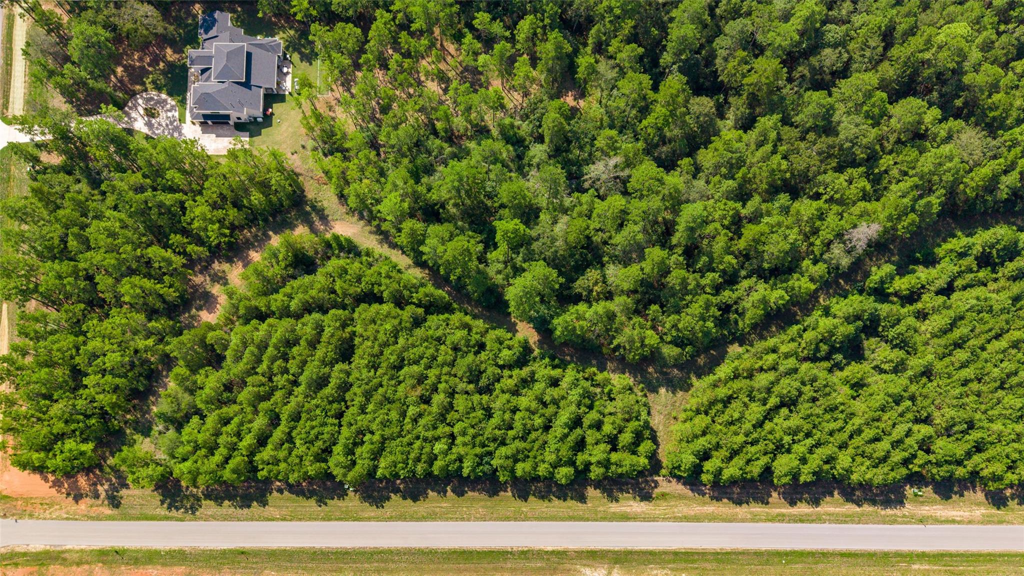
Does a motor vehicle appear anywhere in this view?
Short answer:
No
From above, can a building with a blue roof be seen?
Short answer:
No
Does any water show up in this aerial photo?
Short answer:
No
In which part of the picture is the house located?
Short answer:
top left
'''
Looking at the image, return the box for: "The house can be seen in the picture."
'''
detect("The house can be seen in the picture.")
[188,11,284,125]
